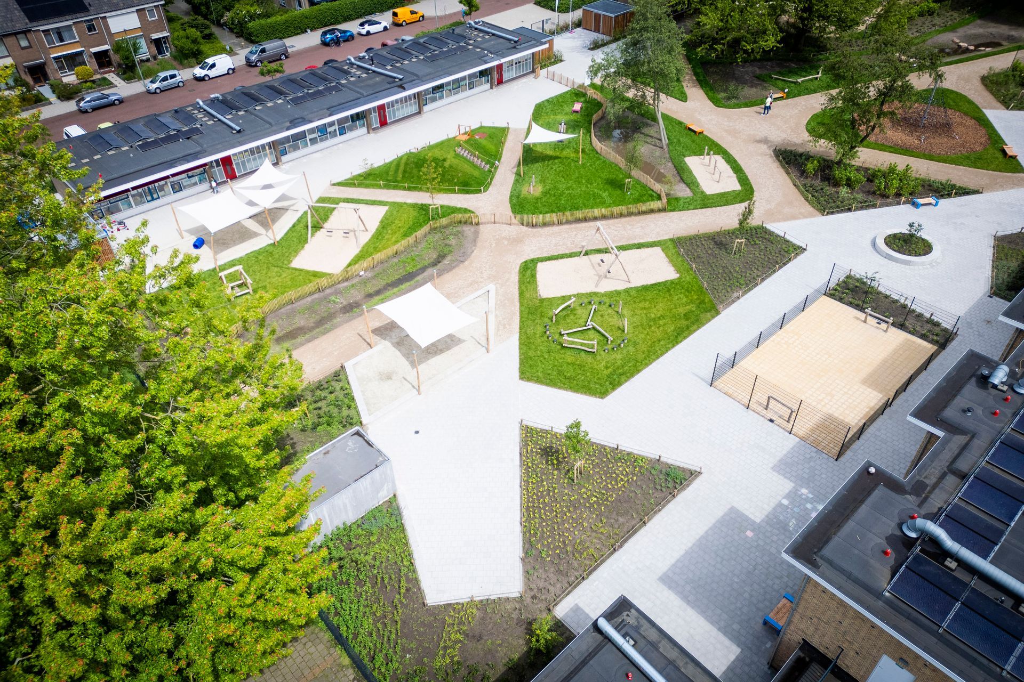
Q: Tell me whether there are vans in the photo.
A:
Yes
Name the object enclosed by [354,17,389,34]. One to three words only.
car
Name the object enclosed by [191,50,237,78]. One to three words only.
van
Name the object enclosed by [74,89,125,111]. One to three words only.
car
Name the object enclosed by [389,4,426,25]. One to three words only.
vehicle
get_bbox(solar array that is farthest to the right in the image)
[882,403,1024,682]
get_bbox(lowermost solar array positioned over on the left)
[85,109,199,154]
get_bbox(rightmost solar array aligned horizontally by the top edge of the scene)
[367,31,466,66]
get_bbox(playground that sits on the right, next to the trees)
[517,188,1024,682]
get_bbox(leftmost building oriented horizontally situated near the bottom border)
[532,595,725,682]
